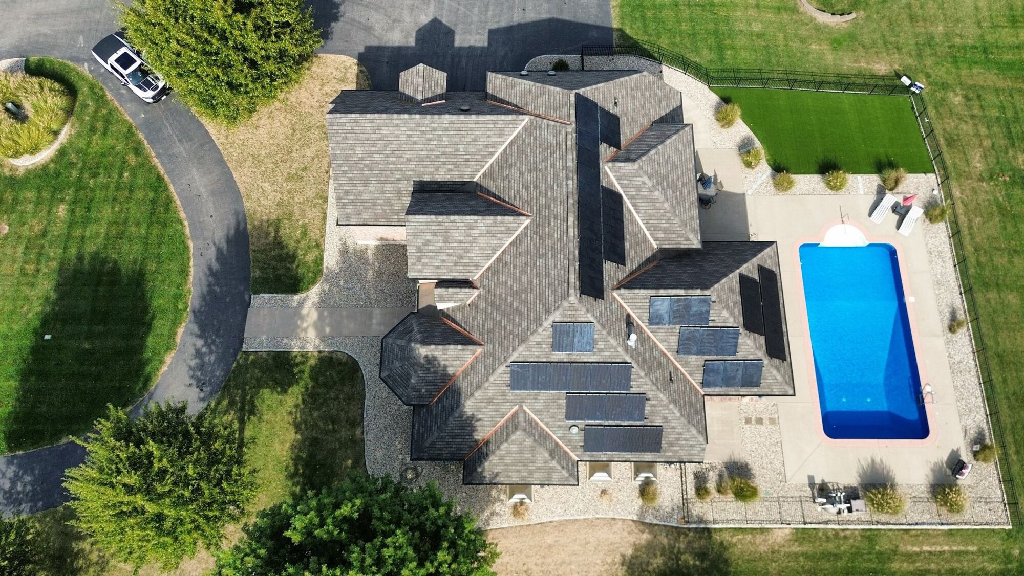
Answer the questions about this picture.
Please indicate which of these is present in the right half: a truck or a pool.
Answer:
pool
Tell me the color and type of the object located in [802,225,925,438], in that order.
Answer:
blue swimming pool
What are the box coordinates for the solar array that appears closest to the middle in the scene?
[547,323,599,354]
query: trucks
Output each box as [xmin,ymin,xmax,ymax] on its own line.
[93,36,174,108]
